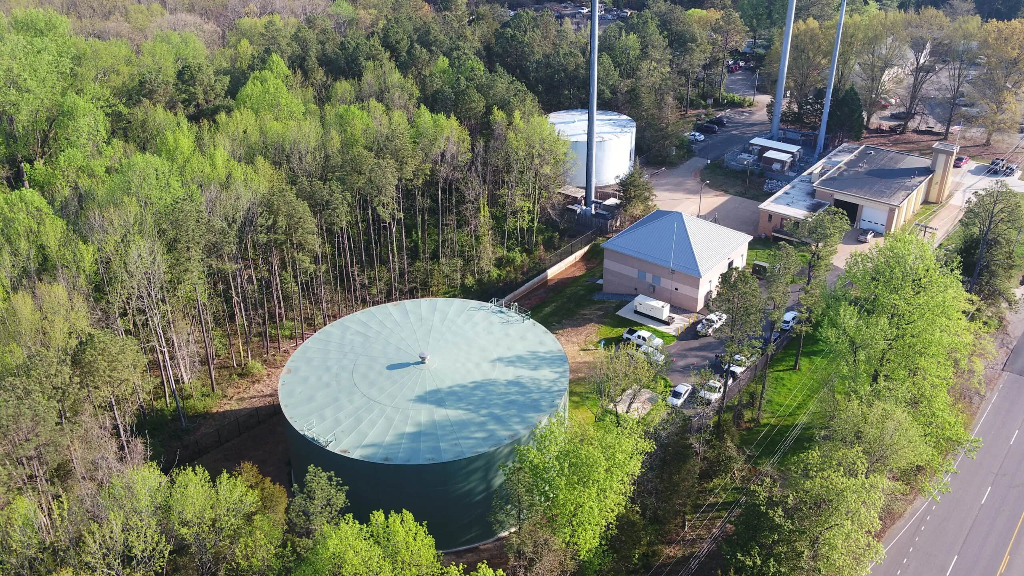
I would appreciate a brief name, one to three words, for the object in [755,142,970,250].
building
